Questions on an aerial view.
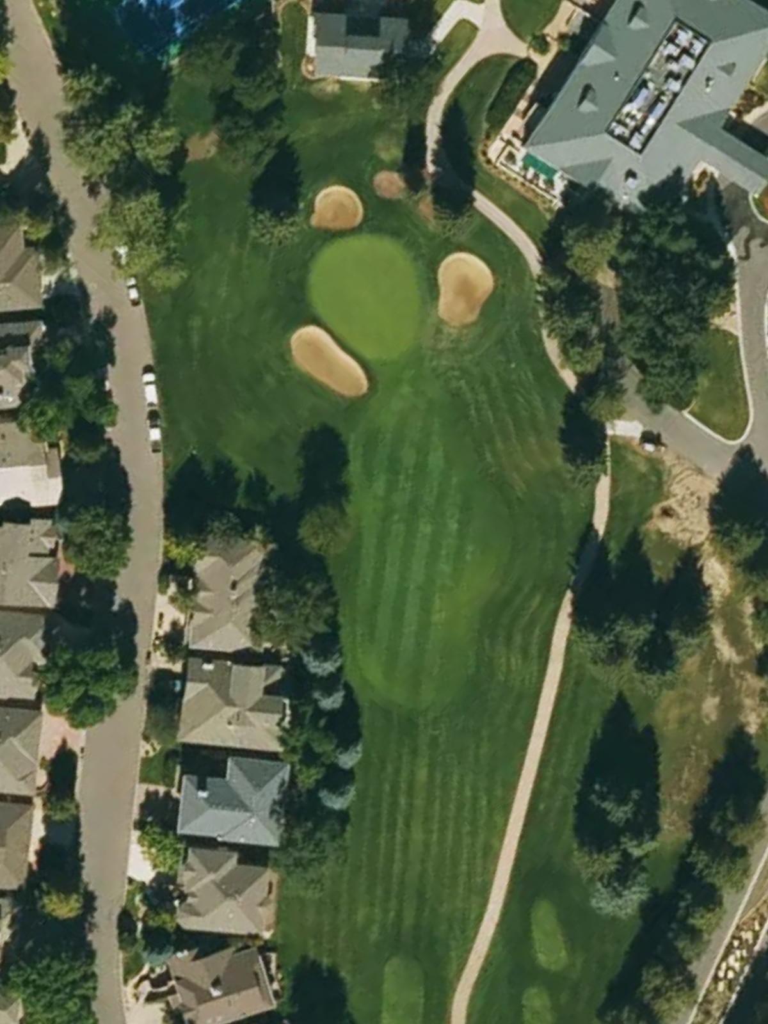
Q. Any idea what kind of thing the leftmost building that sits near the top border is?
residential house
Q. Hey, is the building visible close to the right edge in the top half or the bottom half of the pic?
top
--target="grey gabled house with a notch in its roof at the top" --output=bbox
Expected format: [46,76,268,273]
[313,12,410,77]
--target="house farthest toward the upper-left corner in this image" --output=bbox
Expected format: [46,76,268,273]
[0,225,41,310]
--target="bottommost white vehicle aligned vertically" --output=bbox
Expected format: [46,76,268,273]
[147,420,162,453]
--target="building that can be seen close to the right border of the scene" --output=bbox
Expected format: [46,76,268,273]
[524,0,768,229]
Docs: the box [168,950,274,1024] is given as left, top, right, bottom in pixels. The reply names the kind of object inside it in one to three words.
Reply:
house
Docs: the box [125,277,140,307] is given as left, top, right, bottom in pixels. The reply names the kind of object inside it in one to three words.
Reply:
car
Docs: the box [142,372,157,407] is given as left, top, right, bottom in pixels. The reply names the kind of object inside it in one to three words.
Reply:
vehicle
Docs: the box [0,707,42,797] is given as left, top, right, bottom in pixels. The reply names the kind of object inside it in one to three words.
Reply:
house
